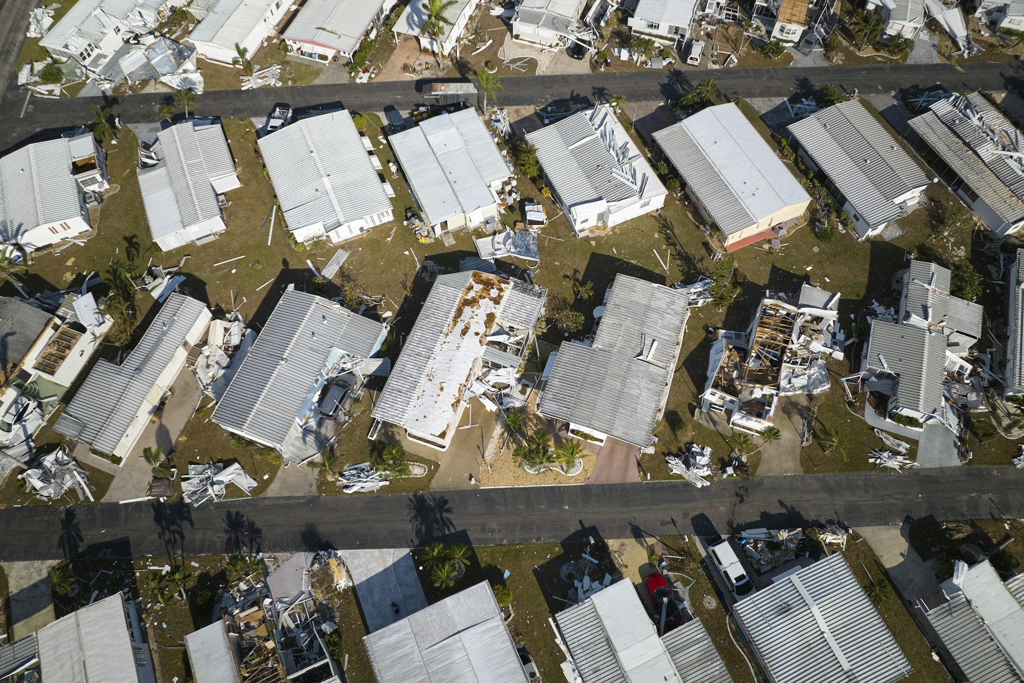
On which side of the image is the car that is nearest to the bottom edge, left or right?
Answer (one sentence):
The car that is nearest to the bottom edge appears in the right half of the scene.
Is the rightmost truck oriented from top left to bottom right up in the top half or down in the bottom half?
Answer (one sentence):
You can find the rightmost truck oriented from top left to bottom right in the bottom half.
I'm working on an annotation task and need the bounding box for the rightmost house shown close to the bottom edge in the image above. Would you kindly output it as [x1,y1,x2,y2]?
[926,560,1024,683]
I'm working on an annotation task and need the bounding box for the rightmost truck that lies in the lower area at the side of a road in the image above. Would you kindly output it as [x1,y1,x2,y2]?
[709,536,759,601]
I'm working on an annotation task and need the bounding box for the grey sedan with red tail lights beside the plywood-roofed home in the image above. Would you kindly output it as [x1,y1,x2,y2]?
[804,22,831,48]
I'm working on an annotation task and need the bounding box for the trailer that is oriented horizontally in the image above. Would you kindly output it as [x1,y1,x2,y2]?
[415,82,479,110]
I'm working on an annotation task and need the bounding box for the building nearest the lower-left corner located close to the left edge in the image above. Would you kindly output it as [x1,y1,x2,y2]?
[0,591,152,683]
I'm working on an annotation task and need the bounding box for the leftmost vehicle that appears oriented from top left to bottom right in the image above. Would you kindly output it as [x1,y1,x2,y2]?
[382,99,410,133]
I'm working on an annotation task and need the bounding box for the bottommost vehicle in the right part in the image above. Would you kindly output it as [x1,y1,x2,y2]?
[646,569,690,629]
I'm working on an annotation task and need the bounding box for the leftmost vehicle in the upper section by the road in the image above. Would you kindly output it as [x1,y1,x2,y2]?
[260,95,291,135]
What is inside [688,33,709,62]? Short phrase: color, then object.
white car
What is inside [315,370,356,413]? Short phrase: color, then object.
gray car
